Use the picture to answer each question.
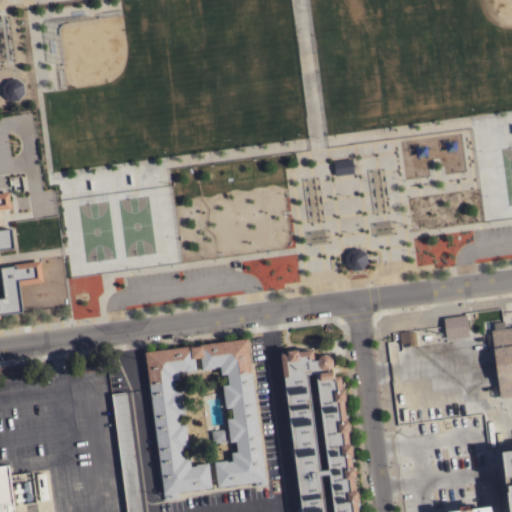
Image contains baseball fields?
Yes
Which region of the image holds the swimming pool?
bottom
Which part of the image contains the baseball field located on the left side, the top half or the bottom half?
top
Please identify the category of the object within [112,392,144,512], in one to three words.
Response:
shed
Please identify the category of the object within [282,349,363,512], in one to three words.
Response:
building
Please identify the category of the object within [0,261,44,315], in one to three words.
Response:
building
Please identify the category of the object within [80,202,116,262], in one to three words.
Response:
basketball court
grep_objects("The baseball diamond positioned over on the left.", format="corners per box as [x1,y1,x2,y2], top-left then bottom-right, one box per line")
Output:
[46,0,308,172]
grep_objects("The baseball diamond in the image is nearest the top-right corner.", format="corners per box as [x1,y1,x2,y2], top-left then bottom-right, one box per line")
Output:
[310,0,512,138]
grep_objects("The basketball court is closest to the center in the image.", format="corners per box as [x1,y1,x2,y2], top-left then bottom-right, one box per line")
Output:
[120,197,156,258]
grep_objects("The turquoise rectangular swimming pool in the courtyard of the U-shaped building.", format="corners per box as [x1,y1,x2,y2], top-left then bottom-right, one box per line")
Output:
[203,394,226,431]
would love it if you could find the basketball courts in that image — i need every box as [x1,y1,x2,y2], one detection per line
[120,197,156,258]
[502,148,512,206]
[80,202,116,262]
